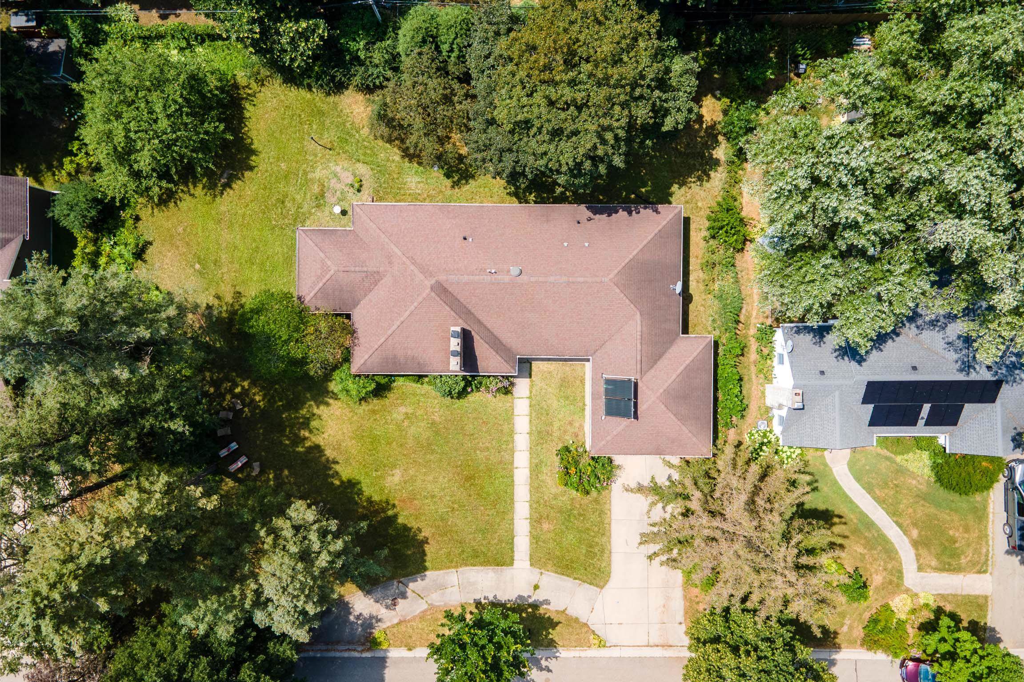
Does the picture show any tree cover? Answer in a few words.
Yes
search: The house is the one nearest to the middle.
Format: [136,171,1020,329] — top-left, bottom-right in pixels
[295,202,714,458]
